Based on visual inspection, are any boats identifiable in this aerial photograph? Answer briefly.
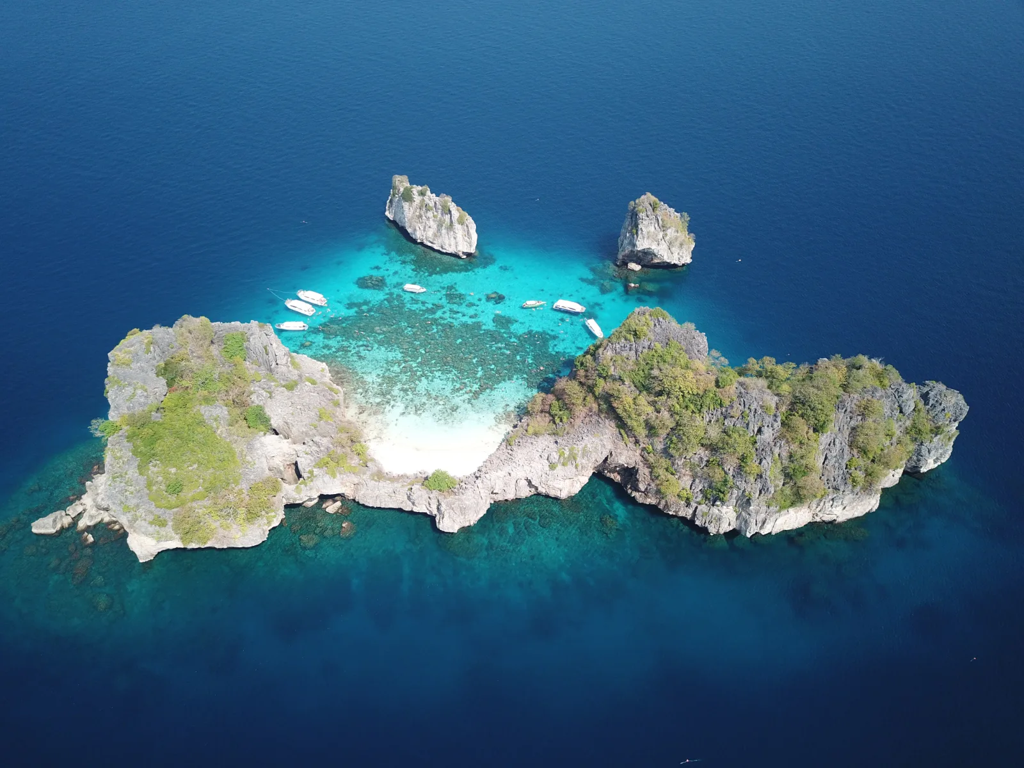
Yes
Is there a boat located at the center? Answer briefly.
Yes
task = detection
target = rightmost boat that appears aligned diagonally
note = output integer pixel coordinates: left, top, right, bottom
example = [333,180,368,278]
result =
[584,317,602,337]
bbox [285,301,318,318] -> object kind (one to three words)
boat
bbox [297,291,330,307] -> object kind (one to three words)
boat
